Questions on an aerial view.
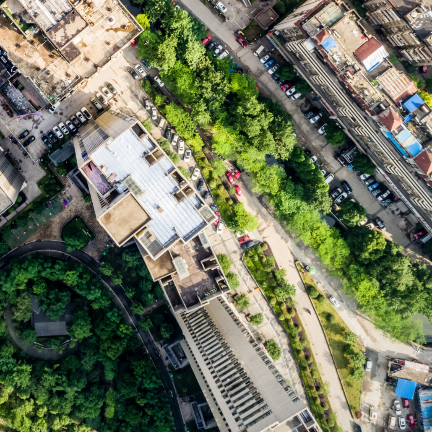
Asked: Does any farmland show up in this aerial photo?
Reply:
No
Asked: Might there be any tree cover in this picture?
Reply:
Yes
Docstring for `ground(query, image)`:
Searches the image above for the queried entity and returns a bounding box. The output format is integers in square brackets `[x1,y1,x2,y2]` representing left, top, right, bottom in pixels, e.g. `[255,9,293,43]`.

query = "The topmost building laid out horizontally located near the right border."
[382,355,432,383]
